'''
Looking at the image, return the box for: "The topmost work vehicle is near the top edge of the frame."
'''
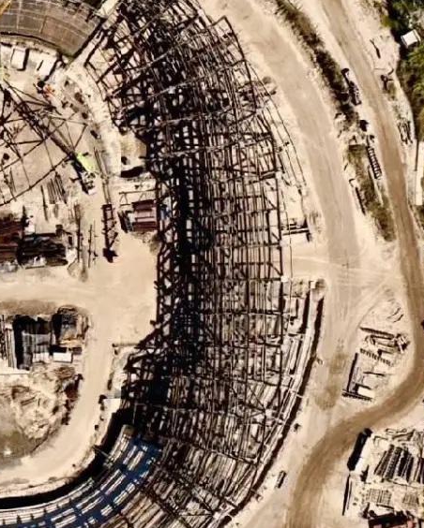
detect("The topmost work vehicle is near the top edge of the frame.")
[371,25,394,46]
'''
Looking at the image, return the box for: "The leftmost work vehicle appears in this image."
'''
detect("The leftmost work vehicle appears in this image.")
[31,89,55,102]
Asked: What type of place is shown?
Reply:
sports ground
